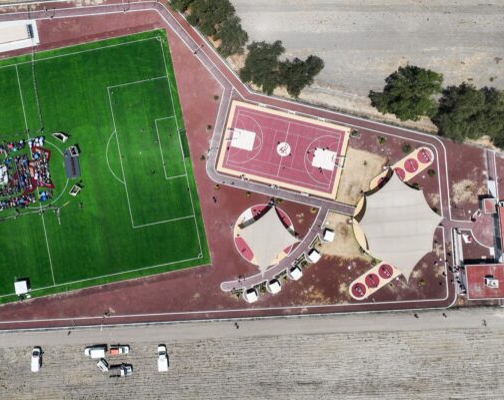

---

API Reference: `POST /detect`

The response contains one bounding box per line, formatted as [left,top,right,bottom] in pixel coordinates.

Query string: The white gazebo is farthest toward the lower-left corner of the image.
[14,278,28,295]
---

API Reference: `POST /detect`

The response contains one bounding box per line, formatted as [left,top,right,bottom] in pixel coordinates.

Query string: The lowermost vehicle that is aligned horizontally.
[109,364,133,376]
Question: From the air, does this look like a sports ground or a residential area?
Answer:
sports ground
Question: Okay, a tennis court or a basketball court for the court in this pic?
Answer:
basketball court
